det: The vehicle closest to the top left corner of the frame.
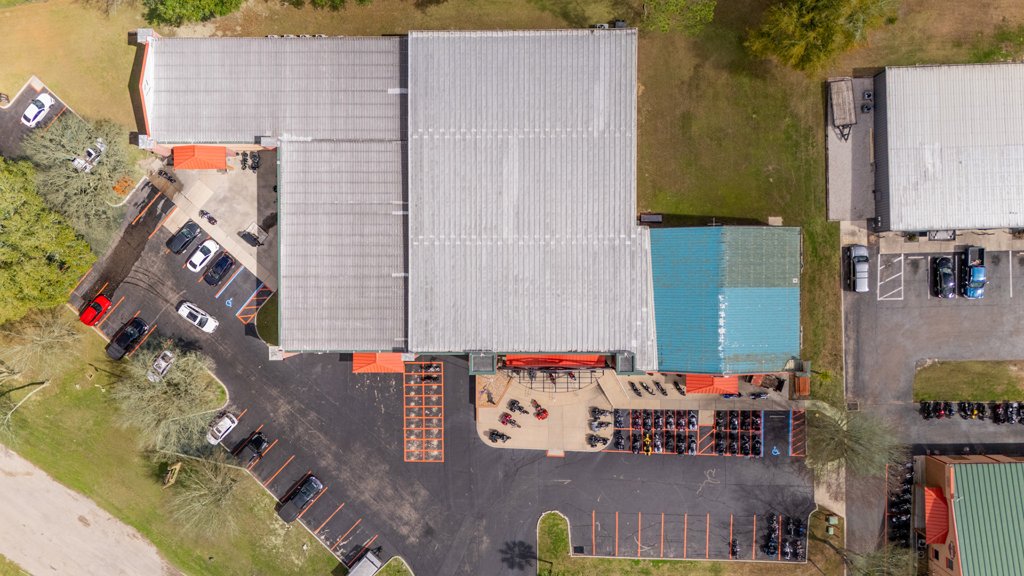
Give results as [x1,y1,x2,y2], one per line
[19,91,57,129]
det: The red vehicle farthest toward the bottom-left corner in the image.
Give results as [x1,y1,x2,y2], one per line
[76,292,115,331]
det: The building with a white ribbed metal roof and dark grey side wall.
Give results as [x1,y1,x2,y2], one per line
[870,62,1024,233]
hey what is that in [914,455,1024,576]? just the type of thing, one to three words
building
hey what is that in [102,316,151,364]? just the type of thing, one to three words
truck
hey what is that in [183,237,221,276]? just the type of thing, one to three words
car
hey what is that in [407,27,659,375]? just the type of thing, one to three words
building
